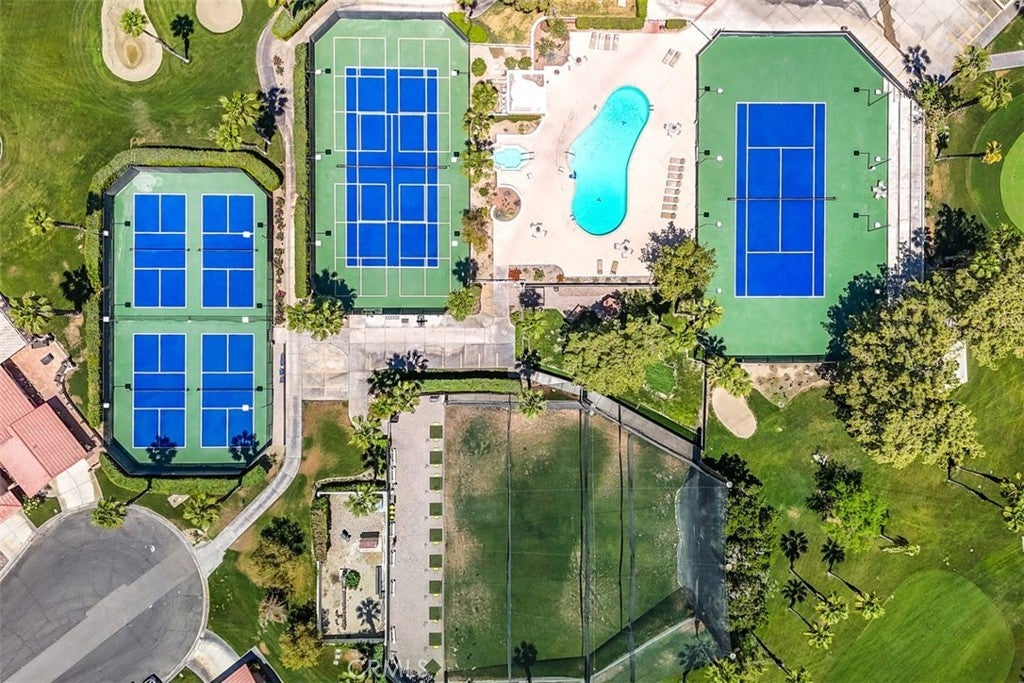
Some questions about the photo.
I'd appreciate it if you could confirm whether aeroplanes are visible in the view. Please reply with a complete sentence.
No, the photo shows no aeroplane.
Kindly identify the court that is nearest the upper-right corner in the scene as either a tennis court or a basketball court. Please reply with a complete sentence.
The court that is nearest the upper-right corner can be classified as a tennis court.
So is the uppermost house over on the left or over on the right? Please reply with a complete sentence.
The uppermost house is on the left side of the image.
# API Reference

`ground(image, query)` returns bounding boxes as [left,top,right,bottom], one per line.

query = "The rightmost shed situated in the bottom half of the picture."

[356,536,379,553]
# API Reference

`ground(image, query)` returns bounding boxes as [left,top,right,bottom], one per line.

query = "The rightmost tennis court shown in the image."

[698,34,889,358]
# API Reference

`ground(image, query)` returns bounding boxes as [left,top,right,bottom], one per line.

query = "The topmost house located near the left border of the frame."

[0,307,34,364]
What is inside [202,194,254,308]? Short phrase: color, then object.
blue sports court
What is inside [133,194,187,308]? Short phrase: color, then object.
blue sports court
